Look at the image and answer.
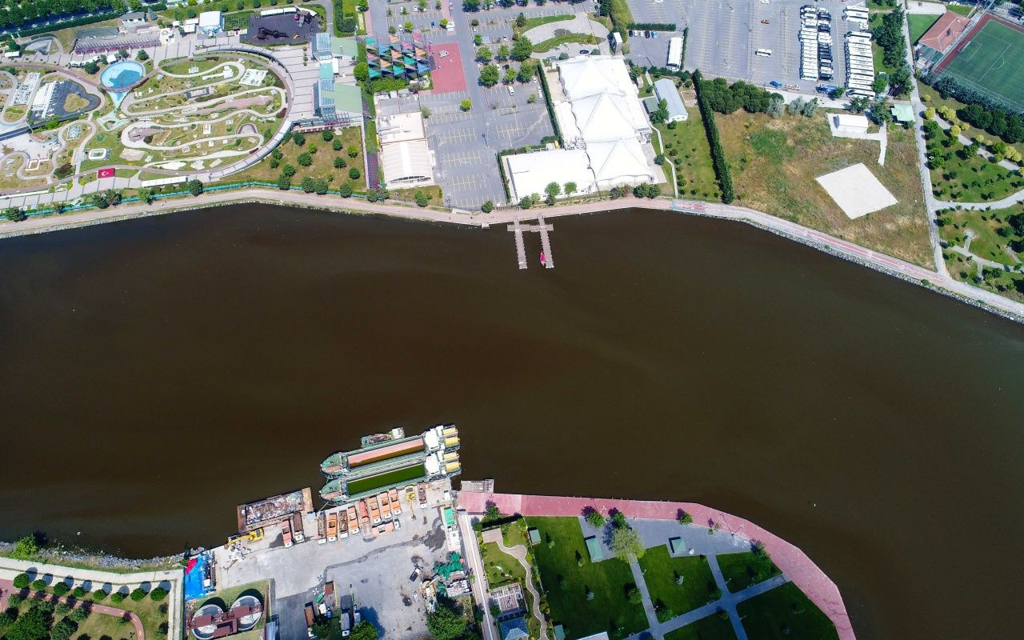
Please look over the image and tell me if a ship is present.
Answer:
Yes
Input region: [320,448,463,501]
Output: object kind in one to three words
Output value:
ship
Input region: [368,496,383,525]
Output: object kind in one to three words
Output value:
vehicle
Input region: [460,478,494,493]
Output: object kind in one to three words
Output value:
pier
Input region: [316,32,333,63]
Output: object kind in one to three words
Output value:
building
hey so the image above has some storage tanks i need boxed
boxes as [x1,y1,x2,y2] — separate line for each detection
[186,604,231,640]
[224,596,266,633]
